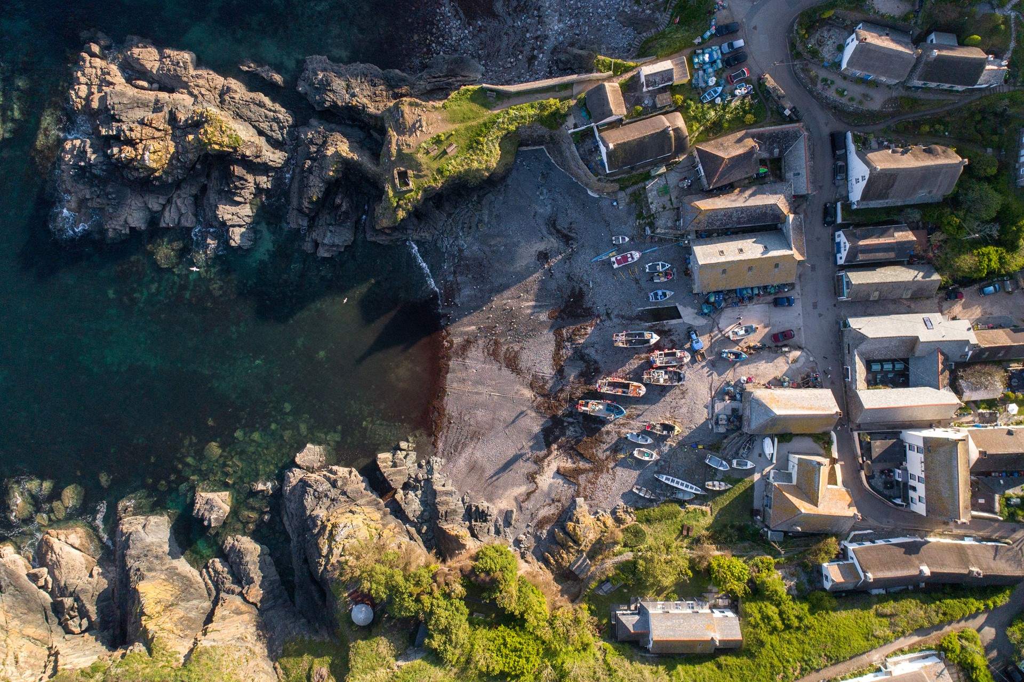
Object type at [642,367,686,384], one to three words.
boat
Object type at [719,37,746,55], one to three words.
car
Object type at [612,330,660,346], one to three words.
boat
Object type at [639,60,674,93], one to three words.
shed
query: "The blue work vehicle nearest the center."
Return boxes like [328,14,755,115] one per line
[686,327,707,350]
